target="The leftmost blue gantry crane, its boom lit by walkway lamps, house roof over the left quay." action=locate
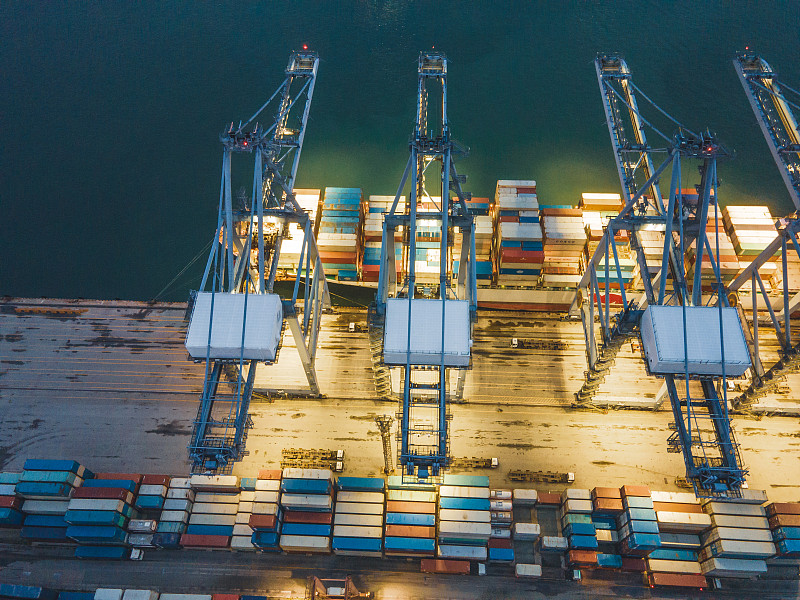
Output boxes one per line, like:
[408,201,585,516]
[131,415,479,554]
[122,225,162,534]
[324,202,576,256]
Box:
[177,44,346,478]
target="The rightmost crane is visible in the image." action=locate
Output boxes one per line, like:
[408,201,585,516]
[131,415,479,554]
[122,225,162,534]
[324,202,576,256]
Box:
[722,43,800,412]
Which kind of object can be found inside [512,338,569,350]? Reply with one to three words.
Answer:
vehicle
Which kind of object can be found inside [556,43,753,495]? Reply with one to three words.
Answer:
container crane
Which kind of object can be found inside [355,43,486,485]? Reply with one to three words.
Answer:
container crane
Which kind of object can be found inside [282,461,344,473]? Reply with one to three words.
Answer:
vehicle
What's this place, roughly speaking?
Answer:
port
